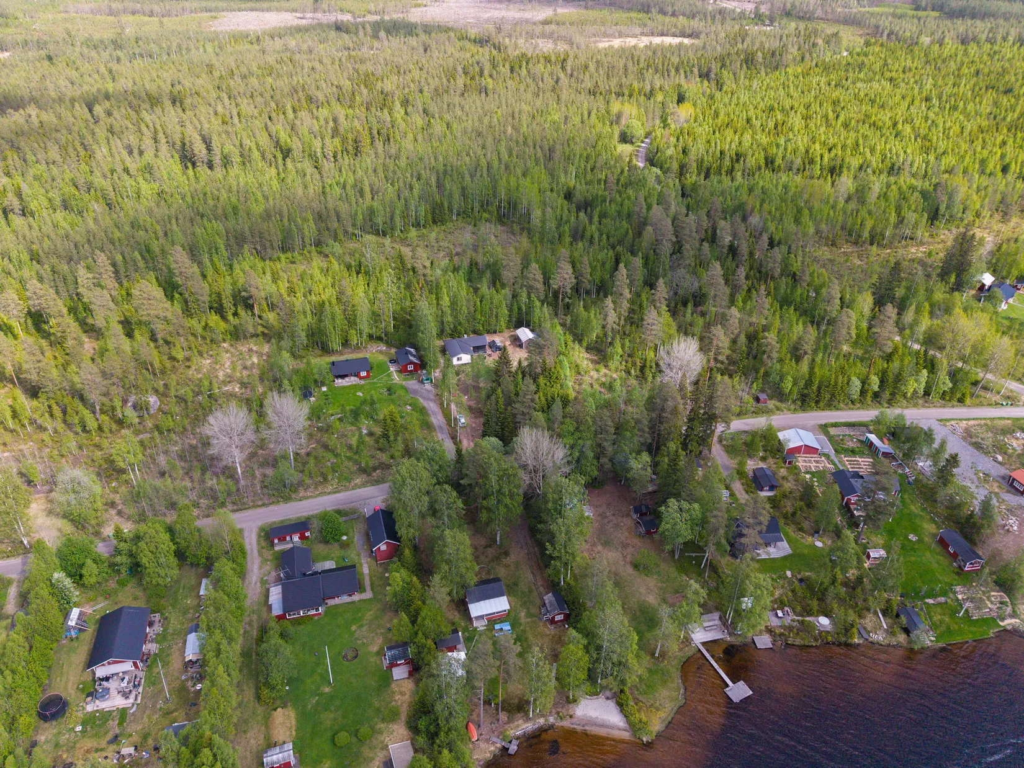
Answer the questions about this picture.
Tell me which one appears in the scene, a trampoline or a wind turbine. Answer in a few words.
trampoline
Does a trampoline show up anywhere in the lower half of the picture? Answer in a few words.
Yes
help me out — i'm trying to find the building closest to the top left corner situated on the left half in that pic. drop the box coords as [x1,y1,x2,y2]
[330,357,371,387]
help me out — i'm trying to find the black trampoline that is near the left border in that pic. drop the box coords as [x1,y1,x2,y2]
[31,691,67,723]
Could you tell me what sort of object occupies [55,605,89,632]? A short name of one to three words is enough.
greenhouse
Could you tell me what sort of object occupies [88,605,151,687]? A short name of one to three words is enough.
house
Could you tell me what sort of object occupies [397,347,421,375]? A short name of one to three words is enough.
shed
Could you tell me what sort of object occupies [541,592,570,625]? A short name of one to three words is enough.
building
